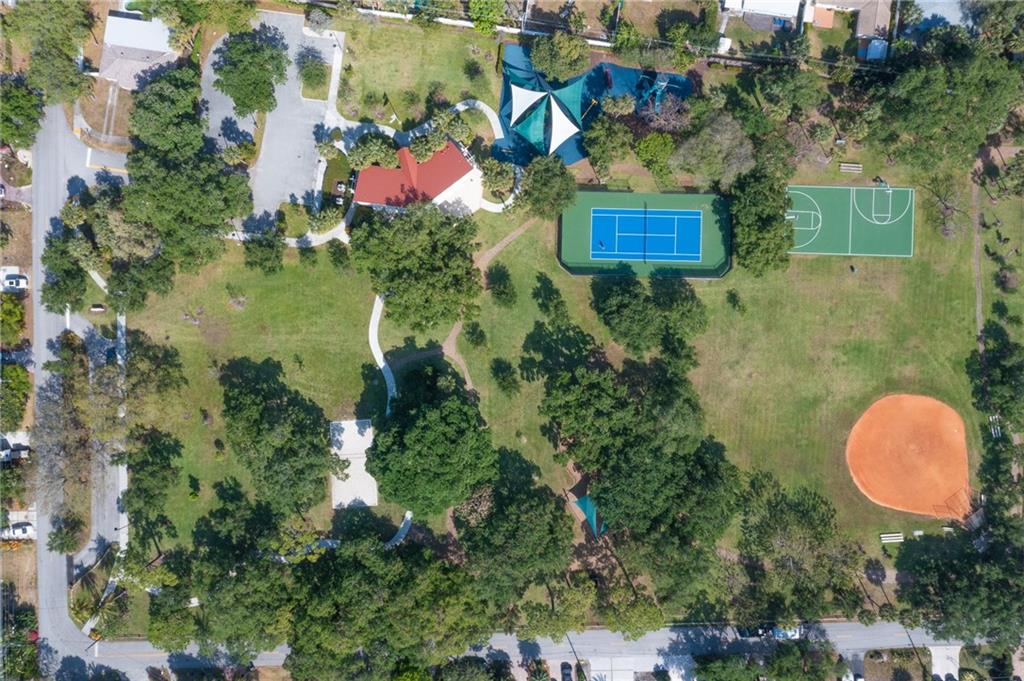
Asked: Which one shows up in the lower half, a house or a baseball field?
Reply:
baseball field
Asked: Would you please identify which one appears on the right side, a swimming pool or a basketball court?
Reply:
basketball court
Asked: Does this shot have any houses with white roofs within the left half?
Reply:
Yes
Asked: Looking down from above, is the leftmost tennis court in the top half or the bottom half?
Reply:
top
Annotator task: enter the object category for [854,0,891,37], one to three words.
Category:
house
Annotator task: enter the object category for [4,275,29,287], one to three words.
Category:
vehicle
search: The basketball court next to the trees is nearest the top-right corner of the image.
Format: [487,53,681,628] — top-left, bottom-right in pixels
[785,184,916,258]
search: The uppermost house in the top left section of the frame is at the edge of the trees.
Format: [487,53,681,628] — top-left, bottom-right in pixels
[88,10,177,93]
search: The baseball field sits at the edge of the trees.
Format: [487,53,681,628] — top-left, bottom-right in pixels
[847,395,972,521]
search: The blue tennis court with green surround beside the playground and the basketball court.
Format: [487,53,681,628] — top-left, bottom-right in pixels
[558,190,731,277]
